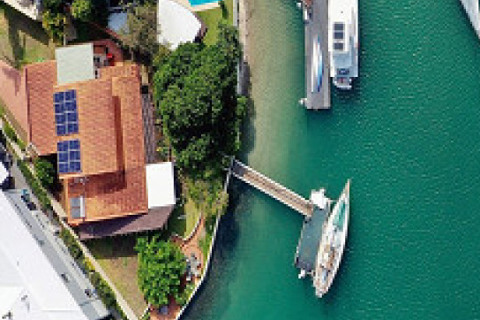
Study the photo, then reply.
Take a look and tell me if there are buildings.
Yes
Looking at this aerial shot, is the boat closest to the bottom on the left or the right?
right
